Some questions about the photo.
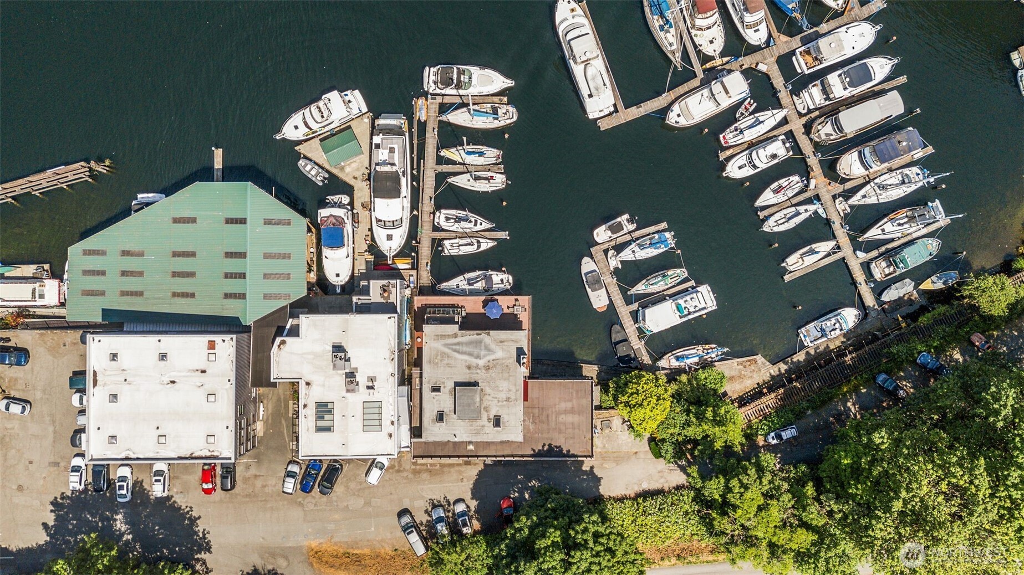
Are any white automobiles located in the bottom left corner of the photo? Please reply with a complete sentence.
Yes, there is a white automobile in the bottom left corner of the photo.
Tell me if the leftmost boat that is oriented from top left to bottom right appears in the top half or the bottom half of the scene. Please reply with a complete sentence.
The top half of the photo is where the leftmost boat that is oriented from top left to bottom right is.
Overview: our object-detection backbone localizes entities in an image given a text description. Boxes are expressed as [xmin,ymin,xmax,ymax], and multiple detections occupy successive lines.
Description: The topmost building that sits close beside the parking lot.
[66,182,314,326]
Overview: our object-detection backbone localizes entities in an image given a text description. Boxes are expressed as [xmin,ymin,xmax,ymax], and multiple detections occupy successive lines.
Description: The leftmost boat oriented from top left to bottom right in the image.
[297,159,328,187]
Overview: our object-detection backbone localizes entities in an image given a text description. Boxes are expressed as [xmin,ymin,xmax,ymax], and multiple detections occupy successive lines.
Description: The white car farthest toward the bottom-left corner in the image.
[67,455,89,492]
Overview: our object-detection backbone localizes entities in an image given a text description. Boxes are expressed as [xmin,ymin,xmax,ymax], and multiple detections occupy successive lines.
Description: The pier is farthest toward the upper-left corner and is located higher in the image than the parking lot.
[0,160,109,204]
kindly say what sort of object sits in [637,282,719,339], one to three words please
boat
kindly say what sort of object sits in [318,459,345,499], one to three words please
car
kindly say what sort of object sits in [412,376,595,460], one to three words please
building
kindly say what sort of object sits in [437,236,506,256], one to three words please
boat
